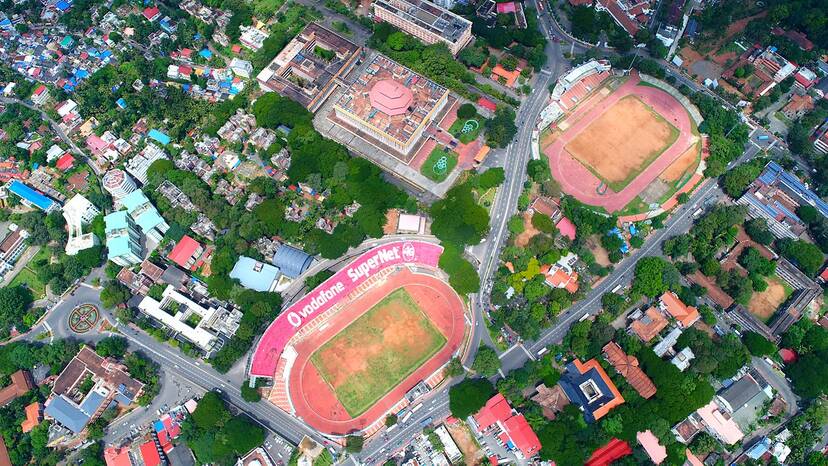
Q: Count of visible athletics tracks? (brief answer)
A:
2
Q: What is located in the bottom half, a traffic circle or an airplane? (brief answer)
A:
traffic circle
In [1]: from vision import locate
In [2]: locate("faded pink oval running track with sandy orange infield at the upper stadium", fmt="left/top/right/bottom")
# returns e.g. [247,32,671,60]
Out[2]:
[546,74,692,209]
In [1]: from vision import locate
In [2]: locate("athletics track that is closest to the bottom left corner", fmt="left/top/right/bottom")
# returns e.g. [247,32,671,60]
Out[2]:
[288,273,469,438]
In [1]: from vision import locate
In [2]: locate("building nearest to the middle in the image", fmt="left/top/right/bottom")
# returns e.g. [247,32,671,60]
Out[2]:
[396,213,425,239]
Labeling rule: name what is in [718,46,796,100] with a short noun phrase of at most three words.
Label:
building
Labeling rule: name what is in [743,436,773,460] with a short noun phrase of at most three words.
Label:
house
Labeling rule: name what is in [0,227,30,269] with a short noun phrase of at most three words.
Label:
building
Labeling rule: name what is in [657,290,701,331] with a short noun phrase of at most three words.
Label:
house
